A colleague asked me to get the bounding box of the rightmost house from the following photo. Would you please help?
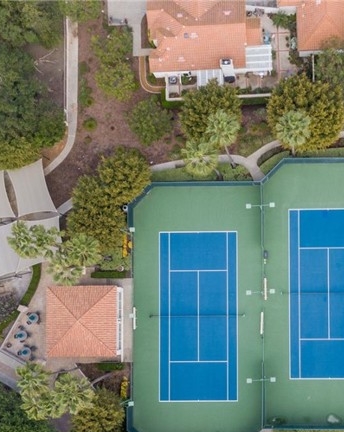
[277,0,344,54]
